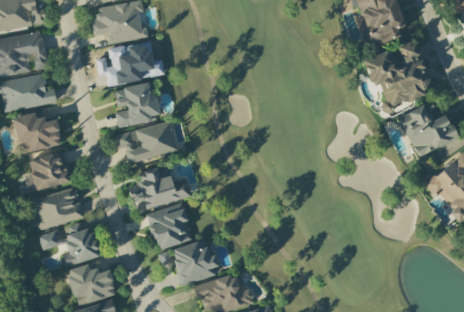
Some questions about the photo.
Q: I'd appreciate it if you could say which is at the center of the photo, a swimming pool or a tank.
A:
swimming pool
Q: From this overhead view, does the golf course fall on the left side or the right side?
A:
right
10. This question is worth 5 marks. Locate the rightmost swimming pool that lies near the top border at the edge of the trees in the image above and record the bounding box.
[340,11,364,43]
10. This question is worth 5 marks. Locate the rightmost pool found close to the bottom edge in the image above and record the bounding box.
[244,276,266,301]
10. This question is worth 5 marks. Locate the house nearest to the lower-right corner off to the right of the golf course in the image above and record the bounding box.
[424,151,464,222]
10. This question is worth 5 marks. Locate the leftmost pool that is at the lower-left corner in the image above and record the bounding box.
[42,244,68,271]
